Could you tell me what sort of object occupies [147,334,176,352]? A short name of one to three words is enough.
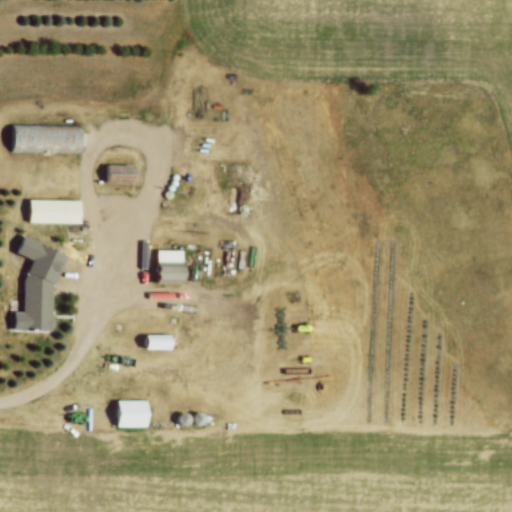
barn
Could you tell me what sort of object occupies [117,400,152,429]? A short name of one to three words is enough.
barn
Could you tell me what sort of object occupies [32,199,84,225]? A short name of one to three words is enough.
shed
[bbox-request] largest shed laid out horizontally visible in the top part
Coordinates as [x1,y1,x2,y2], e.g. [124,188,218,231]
[14,126,86,154]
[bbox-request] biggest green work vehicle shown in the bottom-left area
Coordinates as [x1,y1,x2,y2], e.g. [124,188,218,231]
[66,407,94,432]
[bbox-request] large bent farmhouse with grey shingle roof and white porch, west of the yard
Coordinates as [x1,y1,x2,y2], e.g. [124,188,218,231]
[10,238,70,333]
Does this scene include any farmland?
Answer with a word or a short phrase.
Yes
